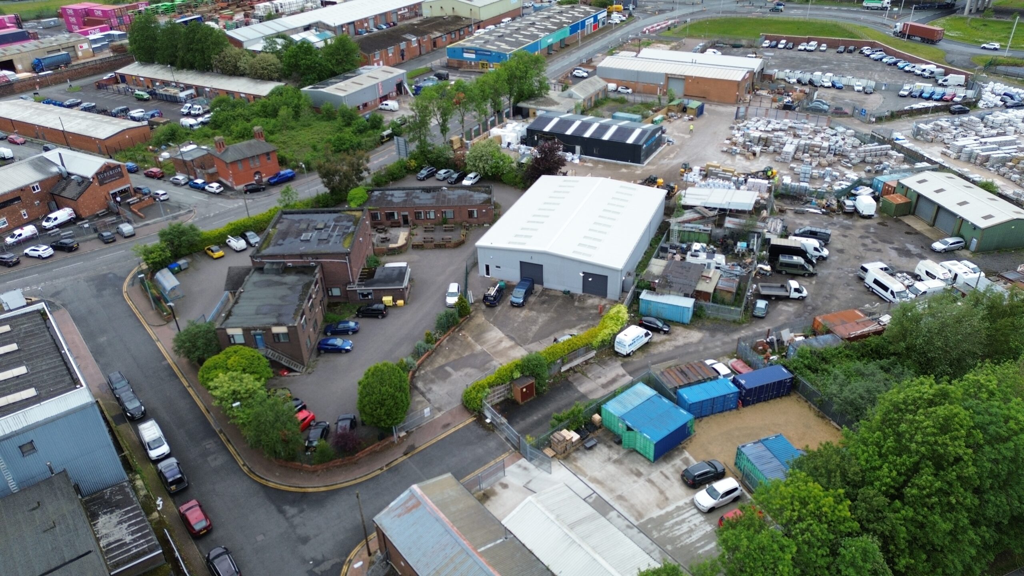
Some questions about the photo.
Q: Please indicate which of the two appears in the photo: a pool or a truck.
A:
truck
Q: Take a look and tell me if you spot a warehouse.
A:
Yes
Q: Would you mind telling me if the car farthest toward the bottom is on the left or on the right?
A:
left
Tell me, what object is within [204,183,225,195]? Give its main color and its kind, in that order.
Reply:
white vehicle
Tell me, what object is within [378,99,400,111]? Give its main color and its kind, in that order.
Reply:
white vehicle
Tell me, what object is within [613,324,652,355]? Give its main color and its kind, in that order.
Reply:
white van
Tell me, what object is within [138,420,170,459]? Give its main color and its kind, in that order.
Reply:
white car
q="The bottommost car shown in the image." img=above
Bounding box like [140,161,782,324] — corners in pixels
[205,545,245,576]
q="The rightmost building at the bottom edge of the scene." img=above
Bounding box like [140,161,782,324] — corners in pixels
[504,481,672,576]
